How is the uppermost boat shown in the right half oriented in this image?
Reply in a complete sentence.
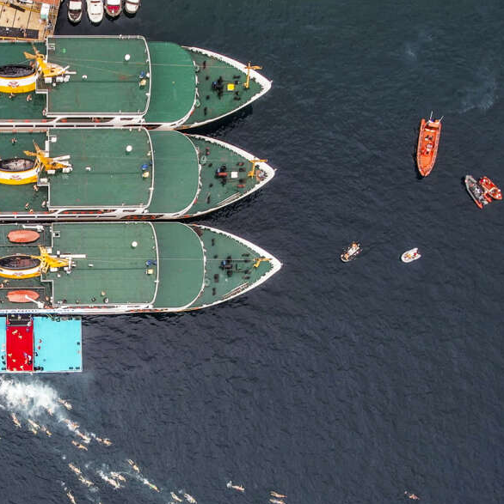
Seen from above, the uppermost boat shown in the right half lies from top to bottom.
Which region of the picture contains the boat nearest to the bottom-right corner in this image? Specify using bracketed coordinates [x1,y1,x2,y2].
[402,247,421,261]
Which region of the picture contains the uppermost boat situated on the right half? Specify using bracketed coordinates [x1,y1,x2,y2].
[416,114,438,175]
